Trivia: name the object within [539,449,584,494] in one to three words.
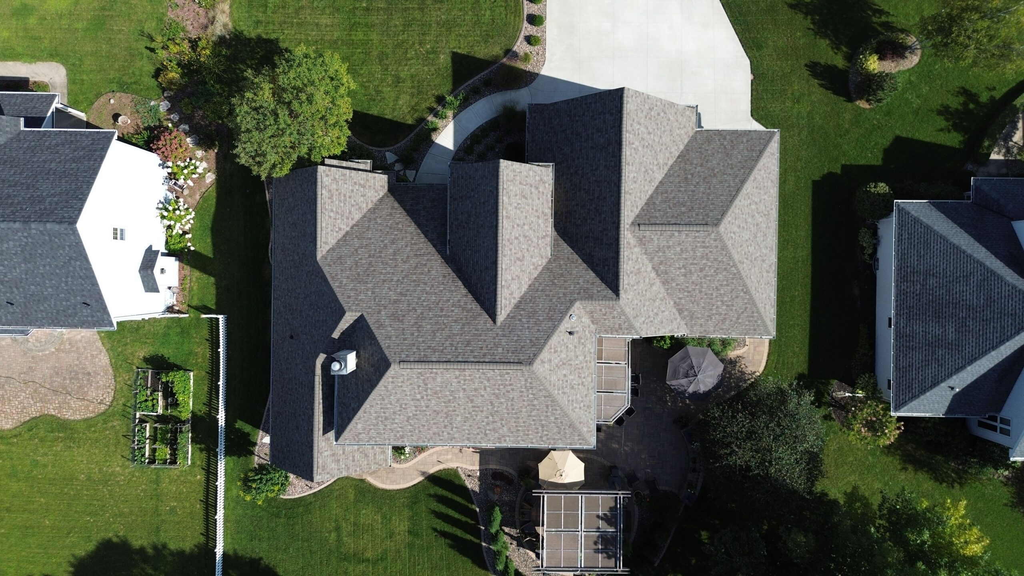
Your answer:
umbrella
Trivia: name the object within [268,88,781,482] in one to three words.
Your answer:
house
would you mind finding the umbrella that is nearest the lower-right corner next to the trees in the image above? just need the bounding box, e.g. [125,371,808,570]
[668,346,723,402]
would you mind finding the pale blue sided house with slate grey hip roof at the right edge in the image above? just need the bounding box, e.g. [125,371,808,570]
[878,177,1024,460]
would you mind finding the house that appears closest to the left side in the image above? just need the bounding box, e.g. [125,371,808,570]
[0,91,178,337]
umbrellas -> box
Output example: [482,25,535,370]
[668,346,723,402]
[539,449,584,494]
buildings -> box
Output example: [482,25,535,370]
[268,88,781,482]
[878,177,1024,460]
[0,91,178,337]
